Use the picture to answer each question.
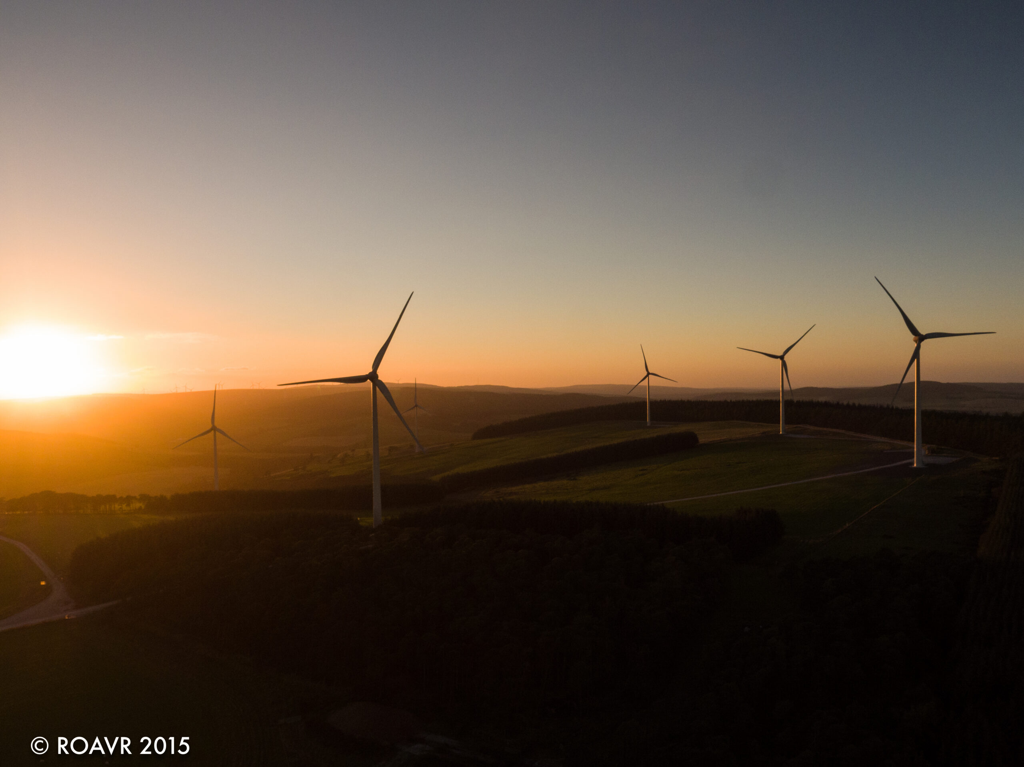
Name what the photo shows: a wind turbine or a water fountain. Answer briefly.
wind turbine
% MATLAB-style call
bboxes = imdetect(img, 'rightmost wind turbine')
[880,276,999,469]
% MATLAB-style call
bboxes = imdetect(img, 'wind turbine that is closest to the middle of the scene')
[391,378,438,448]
